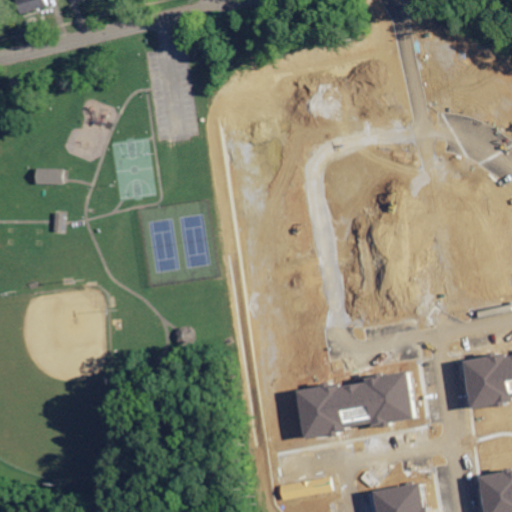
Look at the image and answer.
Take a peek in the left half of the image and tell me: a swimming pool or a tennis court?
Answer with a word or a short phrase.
tennis court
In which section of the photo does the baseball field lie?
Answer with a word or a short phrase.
bottom left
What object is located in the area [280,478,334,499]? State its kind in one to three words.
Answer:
building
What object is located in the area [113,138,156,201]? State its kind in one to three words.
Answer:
basketball court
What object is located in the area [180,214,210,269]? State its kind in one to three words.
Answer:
tennis court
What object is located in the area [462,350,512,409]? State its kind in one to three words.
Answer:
house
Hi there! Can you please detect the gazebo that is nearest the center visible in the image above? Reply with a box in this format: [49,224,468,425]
[181,327,200,344]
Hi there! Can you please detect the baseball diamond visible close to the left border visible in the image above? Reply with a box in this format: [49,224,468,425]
[0,288,110,482]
